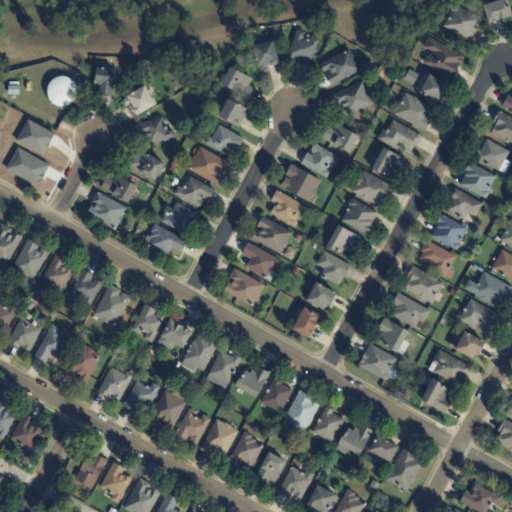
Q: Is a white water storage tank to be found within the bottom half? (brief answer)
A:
No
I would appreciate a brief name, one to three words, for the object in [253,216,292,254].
house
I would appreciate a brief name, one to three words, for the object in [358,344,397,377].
house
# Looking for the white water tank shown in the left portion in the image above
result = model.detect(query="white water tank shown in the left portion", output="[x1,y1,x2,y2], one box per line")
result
[46,76,76,106]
